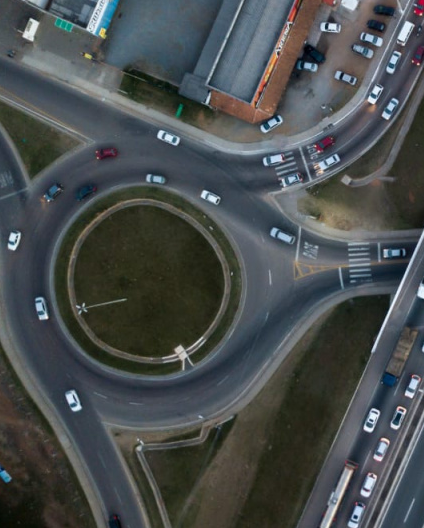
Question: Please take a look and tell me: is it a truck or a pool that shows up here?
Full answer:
The one in the frame is a truck.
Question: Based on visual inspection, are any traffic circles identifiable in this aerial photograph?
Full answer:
Yes, I can see a traffic circle in this picture.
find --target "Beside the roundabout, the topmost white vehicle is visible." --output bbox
[157,130,181,146]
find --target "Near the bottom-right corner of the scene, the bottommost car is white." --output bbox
[348,502,365,528]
